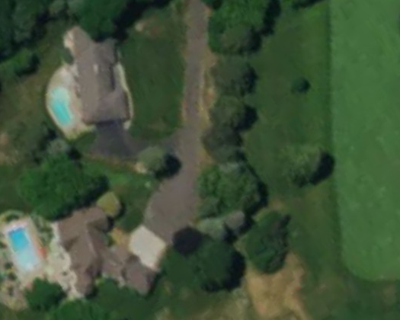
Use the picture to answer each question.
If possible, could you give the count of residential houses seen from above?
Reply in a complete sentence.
In total, there are 2 residential houses in the scene.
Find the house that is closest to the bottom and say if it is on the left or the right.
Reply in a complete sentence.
It is on the left.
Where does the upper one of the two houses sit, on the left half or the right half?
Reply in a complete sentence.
The upper one of the two houses sits on the left side.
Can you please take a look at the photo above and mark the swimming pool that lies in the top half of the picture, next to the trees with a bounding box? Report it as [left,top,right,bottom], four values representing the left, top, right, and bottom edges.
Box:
[46,64,95,139]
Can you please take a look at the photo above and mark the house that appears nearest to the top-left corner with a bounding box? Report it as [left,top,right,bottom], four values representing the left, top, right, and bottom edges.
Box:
[65,23,130,126]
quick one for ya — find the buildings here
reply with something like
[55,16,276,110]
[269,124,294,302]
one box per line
[65,23,130,126]
[51,197,164,302]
